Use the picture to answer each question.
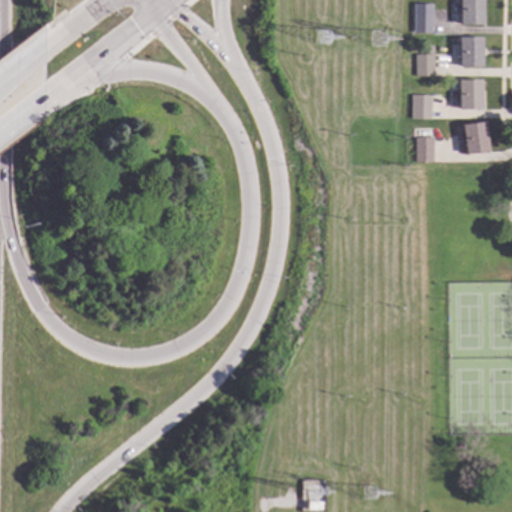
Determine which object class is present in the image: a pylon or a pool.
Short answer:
pylon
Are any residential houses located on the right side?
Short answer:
Yes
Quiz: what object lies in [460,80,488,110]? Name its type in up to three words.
house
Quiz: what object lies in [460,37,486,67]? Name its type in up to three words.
house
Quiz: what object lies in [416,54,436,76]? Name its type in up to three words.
building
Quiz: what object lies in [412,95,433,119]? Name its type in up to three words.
building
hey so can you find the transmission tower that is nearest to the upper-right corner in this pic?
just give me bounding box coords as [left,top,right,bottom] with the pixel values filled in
[372,30,406,46]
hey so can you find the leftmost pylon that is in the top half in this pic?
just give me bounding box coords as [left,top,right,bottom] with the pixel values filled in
[317,29,351,46]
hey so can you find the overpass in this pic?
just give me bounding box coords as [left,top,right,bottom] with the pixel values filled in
[0,24,48,154]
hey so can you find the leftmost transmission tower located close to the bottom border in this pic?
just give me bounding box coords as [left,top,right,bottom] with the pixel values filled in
[308,486,342,503]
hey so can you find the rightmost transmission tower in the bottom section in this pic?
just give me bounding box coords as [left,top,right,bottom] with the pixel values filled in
[363,484,398,501]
